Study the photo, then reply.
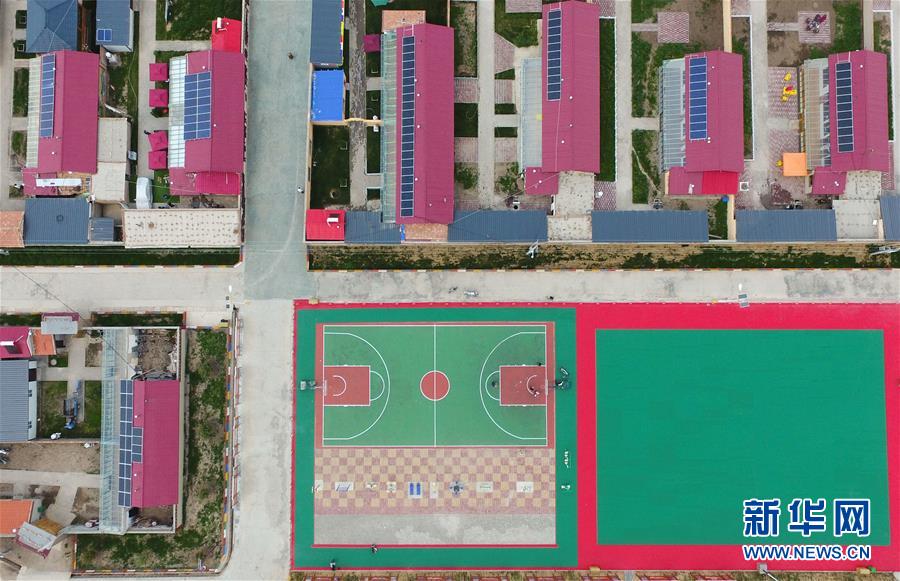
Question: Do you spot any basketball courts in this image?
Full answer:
Yes, a basketball court appears in the view.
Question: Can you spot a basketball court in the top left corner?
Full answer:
No, I see no basketball court in the top left corner.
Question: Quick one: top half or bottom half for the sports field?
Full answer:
Seen from above, the sports field lies in the bottom half of the view.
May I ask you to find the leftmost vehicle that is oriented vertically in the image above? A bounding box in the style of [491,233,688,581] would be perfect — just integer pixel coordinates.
[60,382,77,430]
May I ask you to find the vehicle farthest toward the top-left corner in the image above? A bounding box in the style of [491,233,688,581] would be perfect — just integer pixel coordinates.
[135,178,153,208]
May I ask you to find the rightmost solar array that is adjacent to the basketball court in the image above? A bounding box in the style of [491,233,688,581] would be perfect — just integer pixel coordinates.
[402,29,415,217]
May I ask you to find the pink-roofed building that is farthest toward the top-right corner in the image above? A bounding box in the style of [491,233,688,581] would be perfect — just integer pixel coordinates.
[793,48,889,184]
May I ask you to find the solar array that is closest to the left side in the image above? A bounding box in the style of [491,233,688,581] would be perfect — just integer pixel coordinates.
[40,52,54,140]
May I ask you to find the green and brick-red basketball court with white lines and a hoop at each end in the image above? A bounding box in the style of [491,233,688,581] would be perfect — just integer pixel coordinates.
[292,305,577,570]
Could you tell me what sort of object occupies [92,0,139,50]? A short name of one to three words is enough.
shed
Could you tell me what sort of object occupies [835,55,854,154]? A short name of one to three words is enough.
solar array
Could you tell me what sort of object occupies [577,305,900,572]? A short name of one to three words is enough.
sports field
